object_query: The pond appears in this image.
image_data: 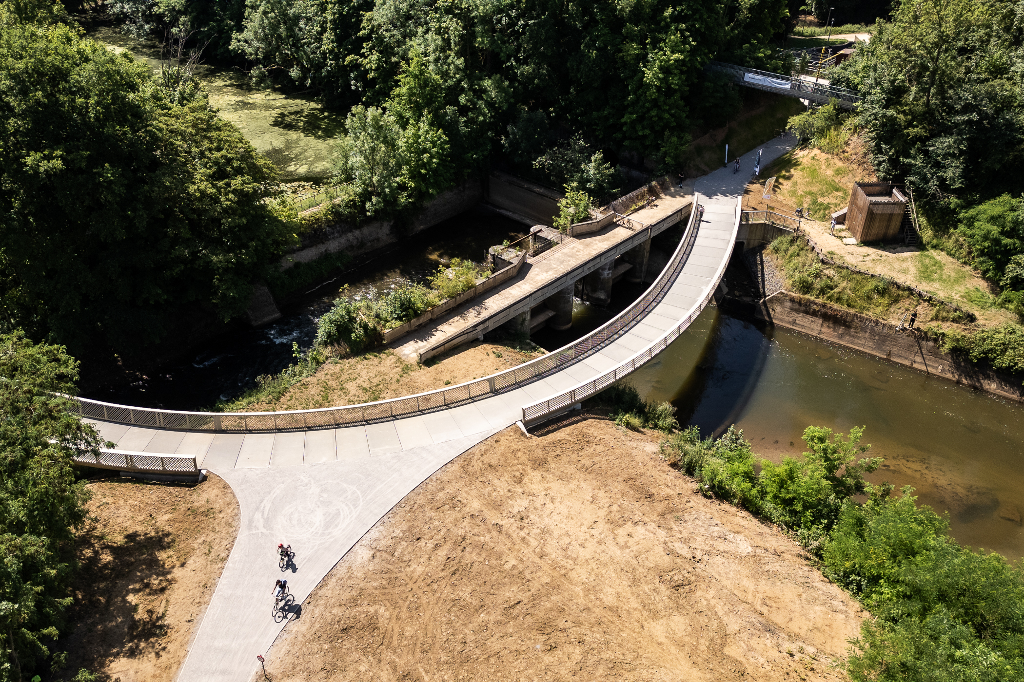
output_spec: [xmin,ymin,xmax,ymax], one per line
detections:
[92,26,366,201]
